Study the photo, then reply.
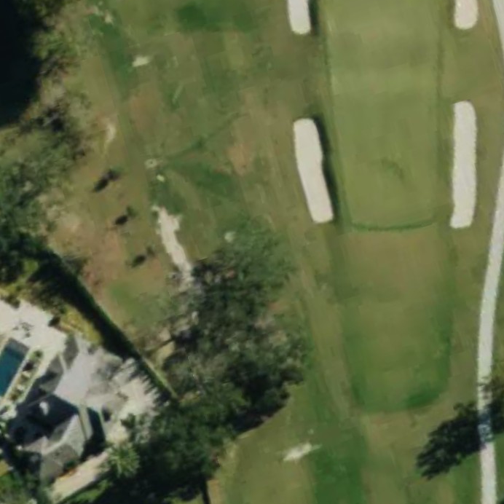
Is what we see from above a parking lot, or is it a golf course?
golf course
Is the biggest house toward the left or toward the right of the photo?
left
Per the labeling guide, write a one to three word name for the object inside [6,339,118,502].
house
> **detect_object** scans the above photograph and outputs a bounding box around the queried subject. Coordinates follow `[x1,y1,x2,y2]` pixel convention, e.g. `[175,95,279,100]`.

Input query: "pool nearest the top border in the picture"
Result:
[0,336,33,400]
